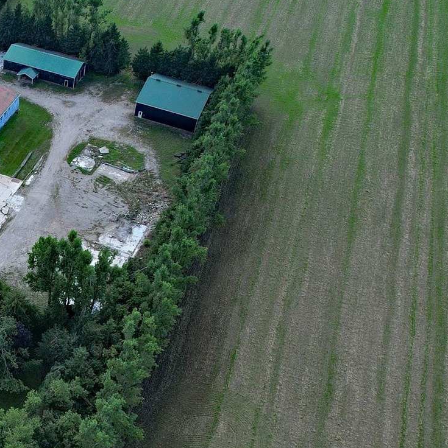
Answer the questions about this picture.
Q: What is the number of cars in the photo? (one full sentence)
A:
The picture shows no cars.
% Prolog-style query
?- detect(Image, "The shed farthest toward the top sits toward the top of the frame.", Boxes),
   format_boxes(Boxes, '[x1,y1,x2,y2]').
[2,43,89,87]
